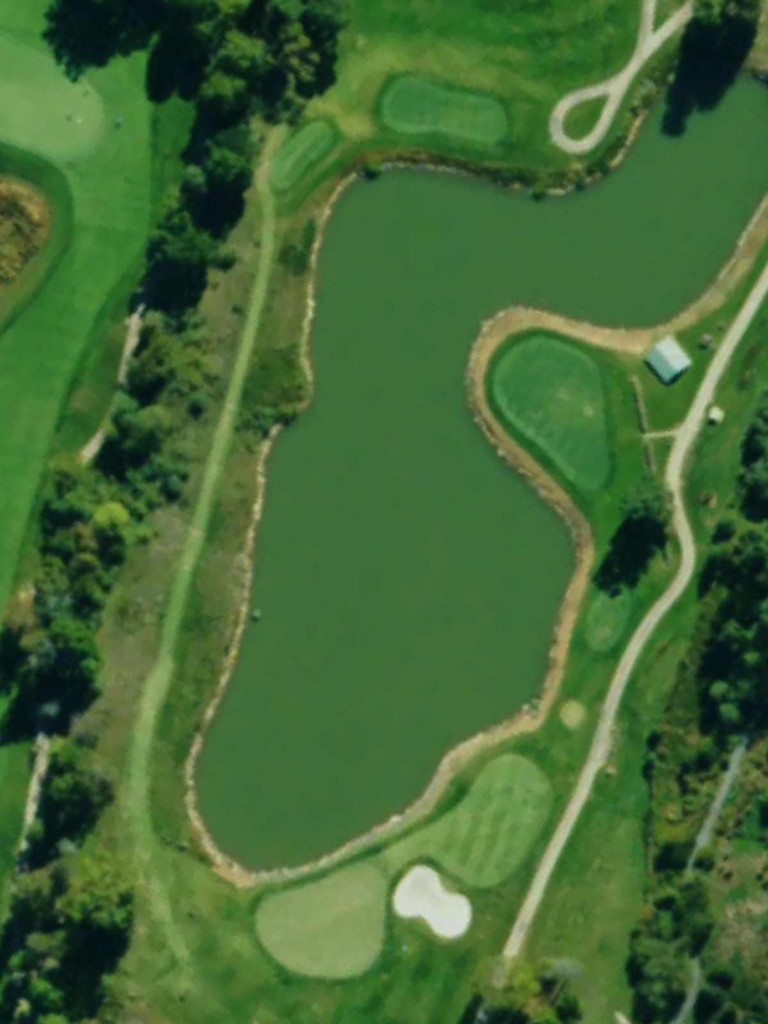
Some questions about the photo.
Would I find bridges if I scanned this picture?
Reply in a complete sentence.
No, I can't see a single bridge in this photo.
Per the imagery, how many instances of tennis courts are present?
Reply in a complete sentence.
The count of tennis courts is 0.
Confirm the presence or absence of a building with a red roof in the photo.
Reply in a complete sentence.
No, there appears to be no building with a red roof in this shot.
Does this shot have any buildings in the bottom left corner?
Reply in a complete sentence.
No, no building appears in the bottom left corner.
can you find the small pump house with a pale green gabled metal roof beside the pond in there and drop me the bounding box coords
[644,337,692,382]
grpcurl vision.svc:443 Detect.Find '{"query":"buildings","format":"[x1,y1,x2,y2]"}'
[708,406,725,424]
[644,337,692,382]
